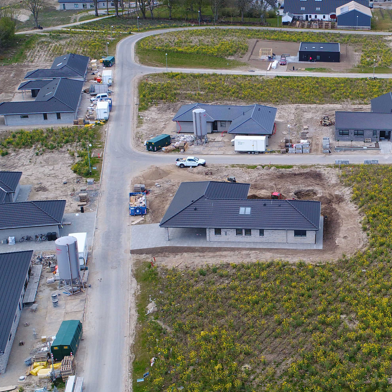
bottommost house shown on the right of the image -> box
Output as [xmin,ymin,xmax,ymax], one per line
[157,180,321,243]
